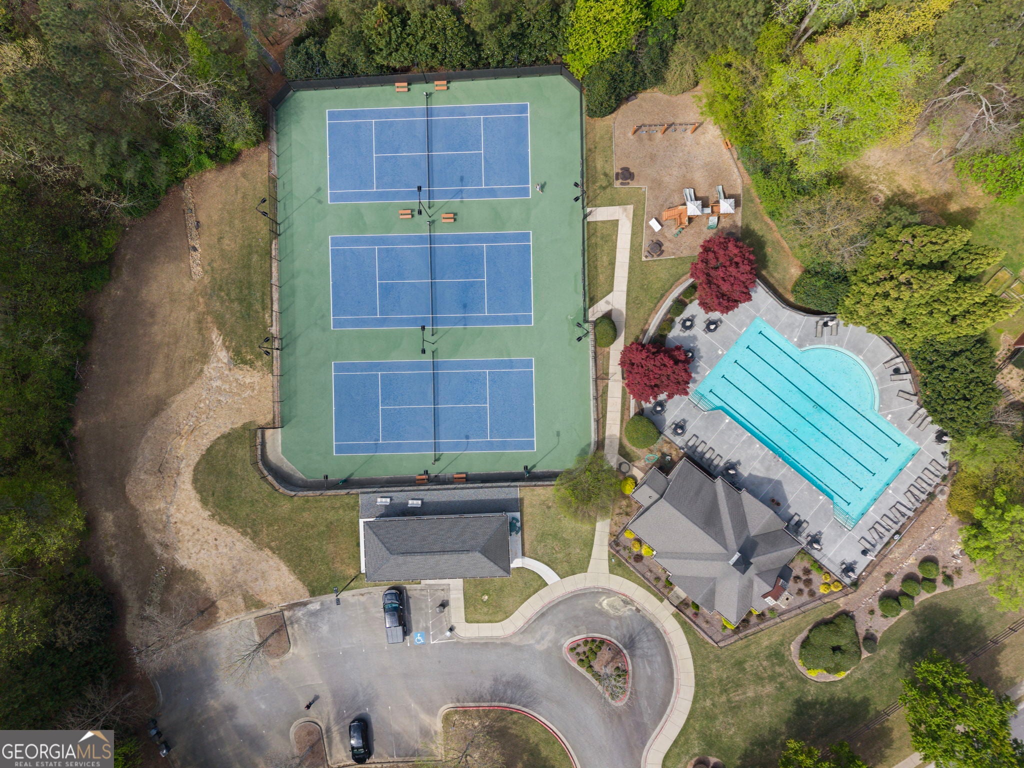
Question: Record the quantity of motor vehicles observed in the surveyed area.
2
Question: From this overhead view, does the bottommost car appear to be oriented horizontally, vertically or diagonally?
vertically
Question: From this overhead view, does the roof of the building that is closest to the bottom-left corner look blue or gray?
gray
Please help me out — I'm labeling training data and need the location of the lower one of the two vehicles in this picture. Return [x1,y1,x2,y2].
[350,718,371,761]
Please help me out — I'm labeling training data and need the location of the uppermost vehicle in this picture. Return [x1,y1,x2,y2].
[381,590,405,644]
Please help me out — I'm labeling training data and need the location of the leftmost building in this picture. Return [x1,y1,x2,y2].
[363,513,511,583]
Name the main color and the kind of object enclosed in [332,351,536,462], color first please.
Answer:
blue tennis court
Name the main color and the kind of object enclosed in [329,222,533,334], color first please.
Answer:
blue tennis court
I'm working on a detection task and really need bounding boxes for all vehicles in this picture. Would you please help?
[381,590,405,644]
[350,718,371,761]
